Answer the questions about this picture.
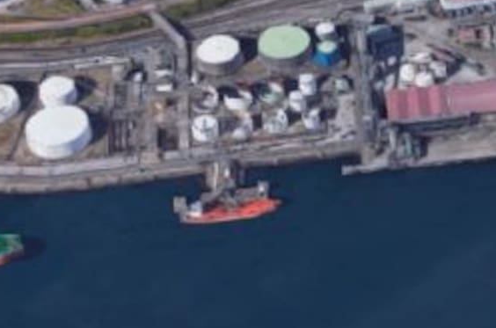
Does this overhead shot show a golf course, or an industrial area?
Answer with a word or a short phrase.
industrial area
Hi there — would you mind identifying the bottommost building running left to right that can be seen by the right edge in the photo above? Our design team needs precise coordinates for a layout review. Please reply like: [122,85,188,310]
[399,113,473,134]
